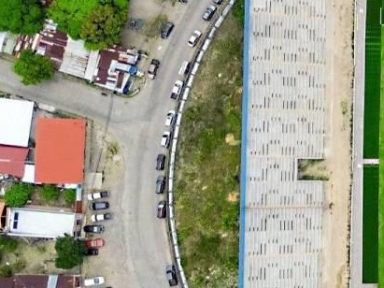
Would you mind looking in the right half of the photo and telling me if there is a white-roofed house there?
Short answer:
No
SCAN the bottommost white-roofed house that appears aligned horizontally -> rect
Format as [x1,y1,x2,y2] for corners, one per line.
[5,209,83,238]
